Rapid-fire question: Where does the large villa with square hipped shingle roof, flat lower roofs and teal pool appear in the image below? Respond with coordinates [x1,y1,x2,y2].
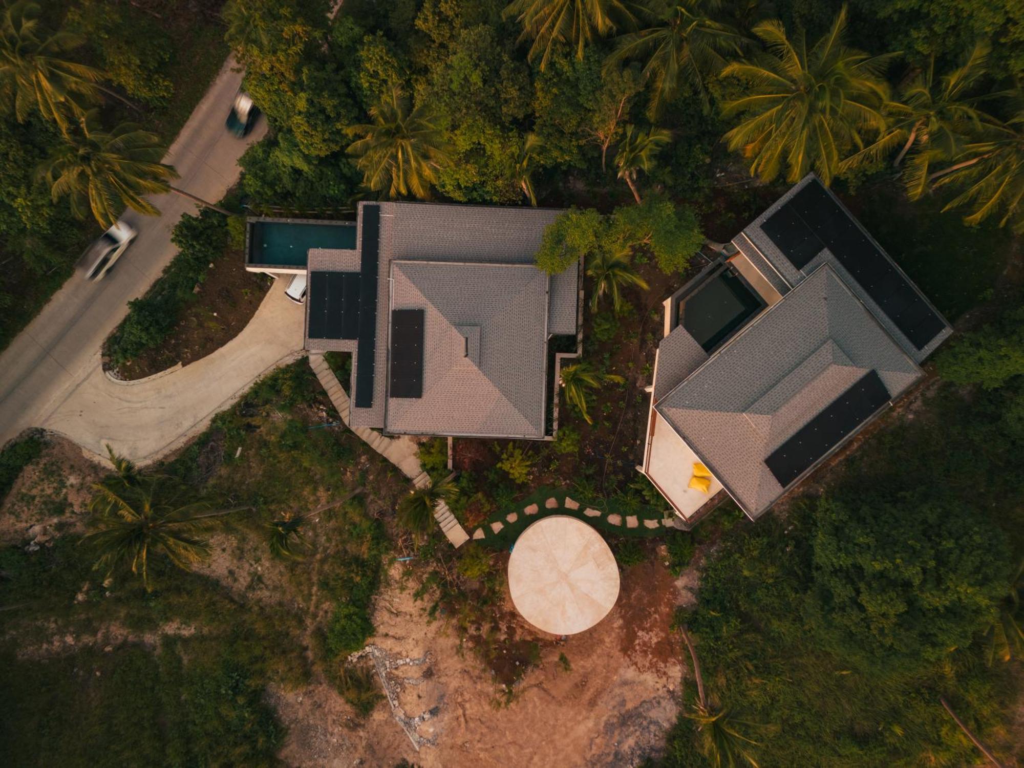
[303,199,586,444]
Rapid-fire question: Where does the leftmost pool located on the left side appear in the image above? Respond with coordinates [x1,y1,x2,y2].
[246,218,357,286]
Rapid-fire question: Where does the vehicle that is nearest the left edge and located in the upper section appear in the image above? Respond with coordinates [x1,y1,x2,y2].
[76,223,136,285]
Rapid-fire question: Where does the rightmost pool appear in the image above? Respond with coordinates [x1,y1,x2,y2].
[661,258,769,356]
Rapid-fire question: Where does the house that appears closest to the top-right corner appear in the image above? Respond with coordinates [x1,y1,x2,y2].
[636,169,957,528]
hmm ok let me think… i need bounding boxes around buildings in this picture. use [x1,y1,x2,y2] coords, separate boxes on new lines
[636,169,957,528]
[303,199,586,444]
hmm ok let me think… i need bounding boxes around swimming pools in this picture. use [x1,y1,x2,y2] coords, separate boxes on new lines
[661,258,769,356]
[246,218,357,286]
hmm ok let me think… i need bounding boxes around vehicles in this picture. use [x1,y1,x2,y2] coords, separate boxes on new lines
[76,223,136,285]
[279,274,308,310]
[223,87,265,145]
